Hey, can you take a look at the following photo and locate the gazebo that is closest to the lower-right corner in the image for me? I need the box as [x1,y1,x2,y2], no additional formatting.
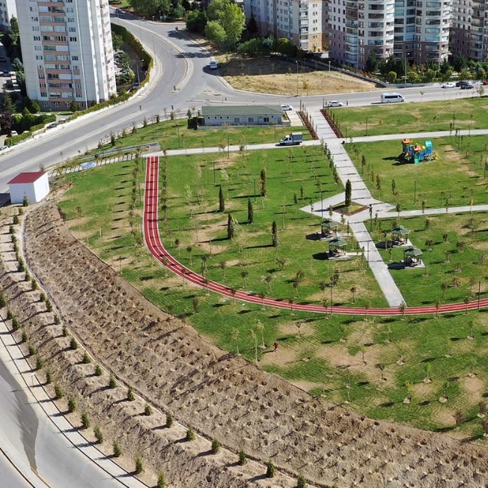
[398,245,427,266]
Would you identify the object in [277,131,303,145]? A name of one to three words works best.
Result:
vehicle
